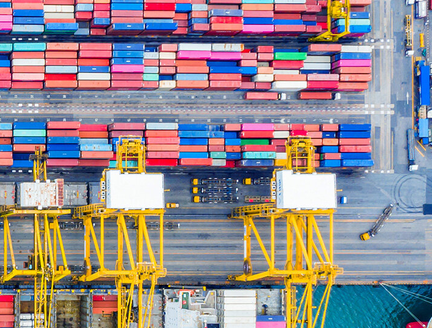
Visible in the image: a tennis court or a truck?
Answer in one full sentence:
It is a truck that can be seen here.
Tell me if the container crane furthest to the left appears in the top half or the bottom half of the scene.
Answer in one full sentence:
Seen from above, the container crane furthest to the left lies in the bottom half of the view.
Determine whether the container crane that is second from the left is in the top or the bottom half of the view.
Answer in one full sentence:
It is in the bottom half that the container crane that is second from the left appears.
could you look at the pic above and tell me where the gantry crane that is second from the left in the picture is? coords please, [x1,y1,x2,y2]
[68,140,165,328]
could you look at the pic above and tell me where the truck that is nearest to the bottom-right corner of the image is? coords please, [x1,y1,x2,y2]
[359,206,393,240]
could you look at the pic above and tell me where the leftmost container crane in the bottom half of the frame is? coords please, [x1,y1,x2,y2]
[0,144,74,328]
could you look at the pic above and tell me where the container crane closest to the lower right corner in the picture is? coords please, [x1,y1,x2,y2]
[221,139,345,328]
